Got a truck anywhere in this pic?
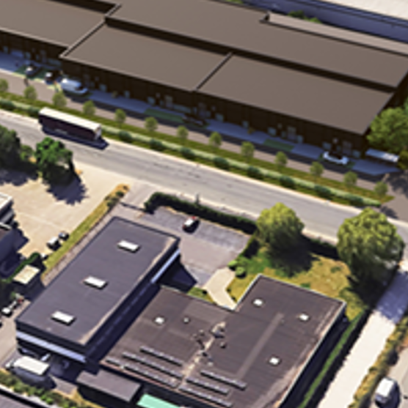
Yes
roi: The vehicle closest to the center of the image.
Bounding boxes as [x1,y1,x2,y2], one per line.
[180,211,203,229]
